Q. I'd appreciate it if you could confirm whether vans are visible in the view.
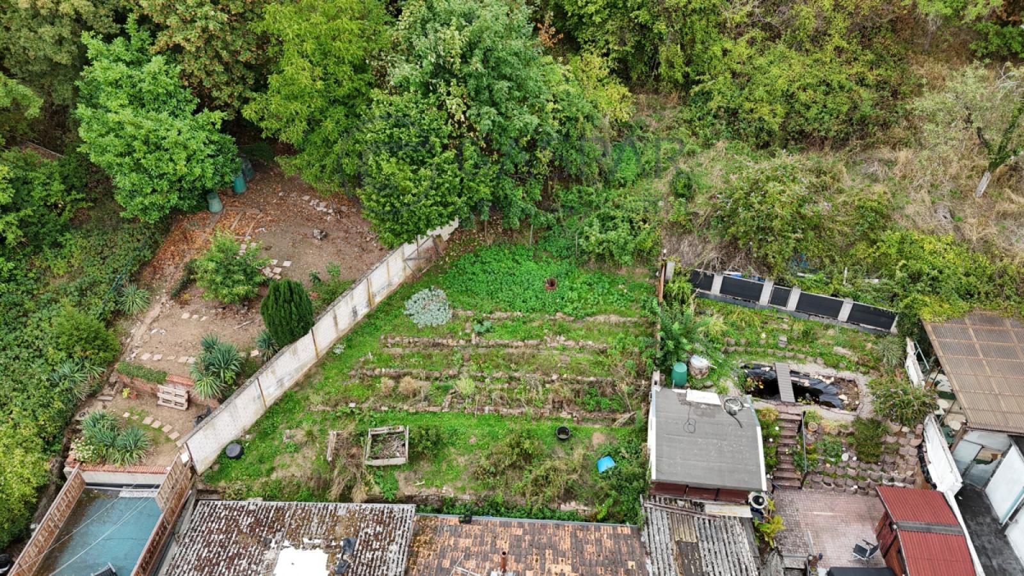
No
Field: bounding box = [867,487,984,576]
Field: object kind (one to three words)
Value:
shed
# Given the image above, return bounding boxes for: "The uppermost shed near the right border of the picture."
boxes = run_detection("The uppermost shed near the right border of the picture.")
[984,453,1024,529]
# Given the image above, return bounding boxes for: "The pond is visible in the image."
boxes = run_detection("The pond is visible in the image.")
[740,364,867,418]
